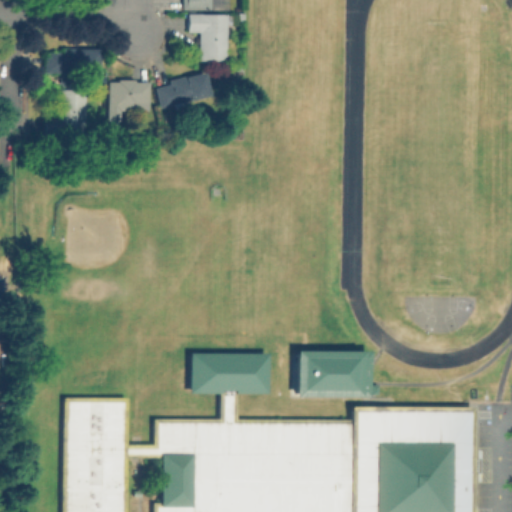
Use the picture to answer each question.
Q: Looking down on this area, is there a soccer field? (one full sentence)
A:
Yes, a soccer field is visible in the scene.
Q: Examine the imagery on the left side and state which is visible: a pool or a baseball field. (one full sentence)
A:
It is a baseball field that can be seen on the left side.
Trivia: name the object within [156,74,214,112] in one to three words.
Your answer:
house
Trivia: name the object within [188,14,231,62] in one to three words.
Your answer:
house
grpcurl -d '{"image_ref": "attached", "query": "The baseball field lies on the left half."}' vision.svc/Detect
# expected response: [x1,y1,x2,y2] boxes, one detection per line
[66,206,130,270]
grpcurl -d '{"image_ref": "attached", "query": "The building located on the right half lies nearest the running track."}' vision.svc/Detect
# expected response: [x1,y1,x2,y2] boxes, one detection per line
[300,352,378,398]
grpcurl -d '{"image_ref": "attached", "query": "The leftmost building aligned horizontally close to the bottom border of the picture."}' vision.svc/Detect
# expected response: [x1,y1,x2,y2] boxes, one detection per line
[152,420,354,512]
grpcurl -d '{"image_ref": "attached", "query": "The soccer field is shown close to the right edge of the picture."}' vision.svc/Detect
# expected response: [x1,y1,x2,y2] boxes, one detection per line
[372,16,507,284]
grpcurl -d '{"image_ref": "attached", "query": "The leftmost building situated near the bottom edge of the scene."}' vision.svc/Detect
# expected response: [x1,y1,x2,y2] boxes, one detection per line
[63,398,127,512]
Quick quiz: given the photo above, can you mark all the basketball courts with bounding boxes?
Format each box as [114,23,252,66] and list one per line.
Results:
[405,297,476,334]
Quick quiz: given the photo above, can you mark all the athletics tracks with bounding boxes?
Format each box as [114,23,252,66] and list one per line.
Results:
[342,0,512,368]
